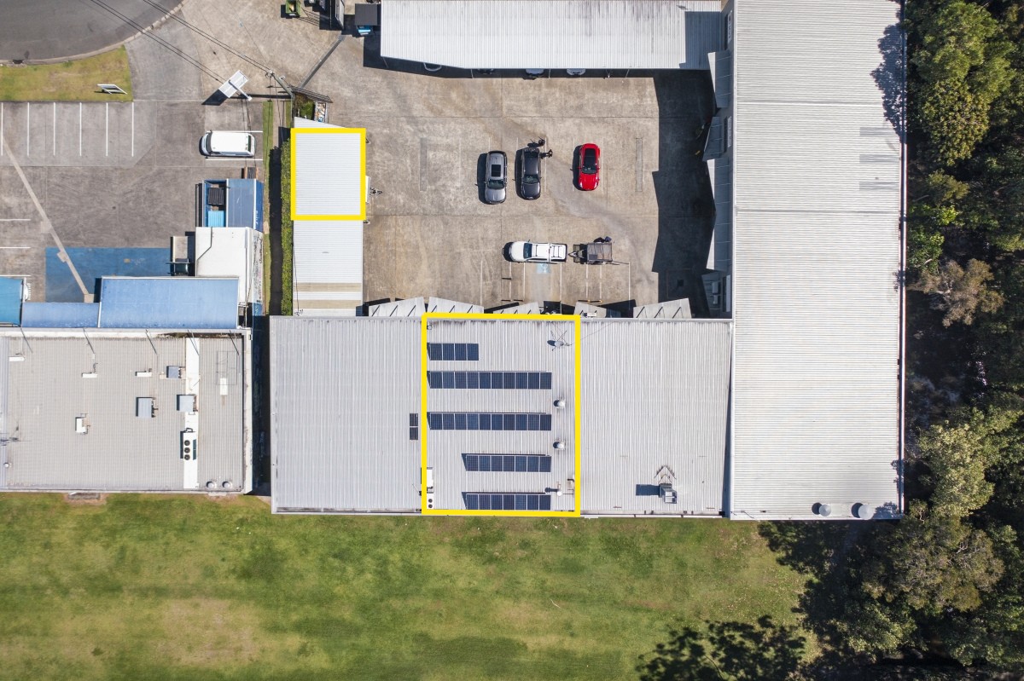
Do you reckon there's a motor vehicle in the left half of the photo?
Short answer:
Yes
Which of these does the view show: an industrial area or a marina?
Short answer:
industrial area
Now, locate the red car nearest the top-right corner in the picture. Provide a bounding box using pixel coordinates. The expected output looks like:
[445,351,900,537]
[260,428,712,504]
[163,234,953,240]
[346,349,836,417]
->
[578,141,603,190]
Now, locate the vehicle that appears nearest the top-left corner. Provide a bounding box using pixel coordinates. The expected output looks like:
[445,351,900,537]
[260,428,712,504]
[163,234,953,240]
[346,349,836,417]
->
[198,129,254,155]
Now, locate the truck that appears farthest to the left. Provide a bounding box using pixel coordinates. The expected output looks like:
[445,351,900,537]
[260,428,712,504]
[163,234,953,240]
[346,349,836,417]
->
[162,231,191,277]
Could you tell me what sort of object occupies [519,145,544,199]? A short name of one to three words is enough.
car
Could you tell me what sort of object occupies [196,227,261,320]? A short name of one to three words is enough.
building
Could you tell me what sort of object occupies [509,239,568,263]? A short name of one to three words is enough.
car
